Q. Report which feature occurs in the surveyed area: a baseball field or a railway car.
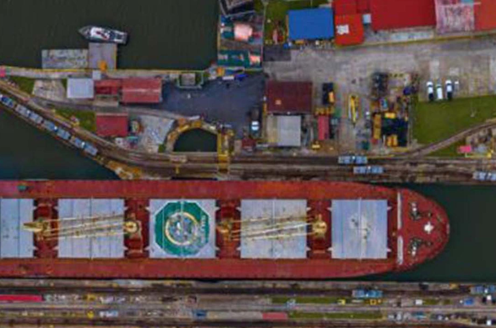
railway car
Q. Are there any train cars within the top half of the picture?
Yes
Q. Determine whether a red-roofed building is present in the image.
Yes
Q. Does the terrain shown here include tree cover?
No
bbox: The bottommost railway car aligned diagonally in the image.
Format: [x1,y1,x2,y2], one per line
[68,134,99,156]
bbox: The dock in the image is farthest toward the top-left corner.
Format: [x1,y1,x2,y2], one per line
[42,48,88,69]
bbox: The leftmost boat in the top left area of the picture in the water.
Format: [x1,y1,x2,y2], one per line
[79,26,127,43]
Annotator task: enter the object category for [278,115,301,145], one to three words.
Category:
shed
